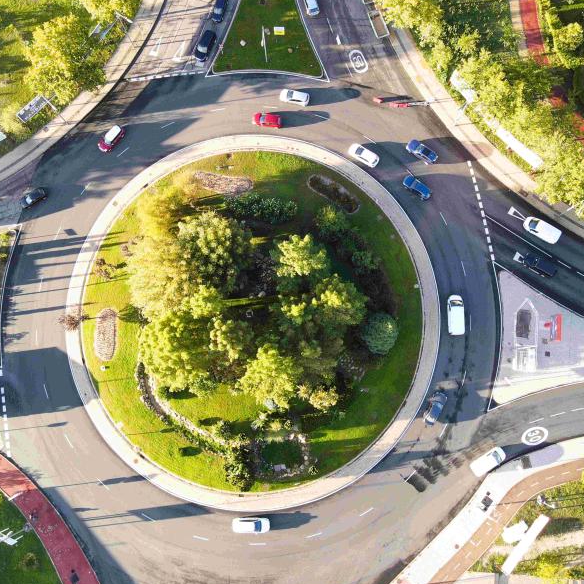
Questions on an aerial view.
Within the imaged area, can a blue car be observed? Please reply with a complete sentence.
Yes, the photo shows a blue car.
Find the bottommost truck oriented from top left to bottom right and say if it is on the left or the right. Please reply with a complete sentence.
The bottommost truck oriented from top left to bottom right appears in the right half of the scene.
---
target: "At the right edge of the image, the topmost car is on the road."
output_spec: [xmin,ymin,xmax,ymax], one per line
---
[519,215,563,246]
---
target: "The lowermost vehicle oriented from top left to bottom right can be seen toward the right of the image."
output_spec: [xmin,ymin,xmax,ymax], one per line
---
[520,247,563,281]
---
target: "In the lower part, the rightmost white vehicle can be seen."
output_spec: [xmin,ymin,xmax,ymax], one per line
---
[470,444,507,476]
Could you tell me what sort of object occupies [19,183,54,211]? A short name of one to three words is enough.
car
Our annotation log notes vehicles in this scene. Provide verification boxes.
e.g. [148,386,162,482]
[520,247,563,281]
[276,87,312,107]
[209,0,232,27]
[470,444,507,476]
[398,172,434,202]
[97,123,127,155]
[191,27,221,66]
[19,183,54,211]
[445,293,466,335]
[232,513,271,534]
[402,138,441,167]
[519,215,563,246]
[421,388,448,426]
[251,112,284,130]
[346,141,383,170]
